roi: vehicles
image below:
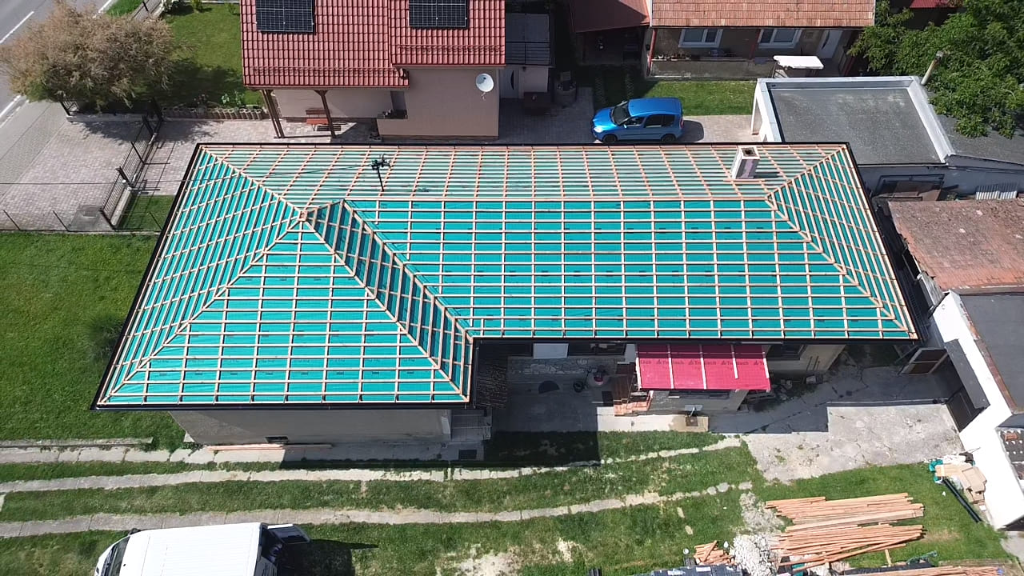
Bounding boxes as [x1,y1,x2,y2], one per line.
[592,96,687,141]
[92,521,311,576]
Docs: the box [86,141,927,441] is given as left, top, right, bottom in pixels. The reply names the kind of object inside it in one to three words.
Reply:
house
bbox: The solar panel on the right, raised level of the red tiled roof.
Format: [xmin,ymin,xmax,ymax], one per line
[409,0,467,28]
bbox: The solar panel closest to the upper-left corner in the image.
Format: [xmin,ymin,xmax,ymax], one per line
[254,0,314,32]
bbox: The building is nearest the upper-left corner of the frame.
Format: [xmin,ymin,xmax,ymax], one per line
[240,0,507,138]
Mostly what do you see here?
buildings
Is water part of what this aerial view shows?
No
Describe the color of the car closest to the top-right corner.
blue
